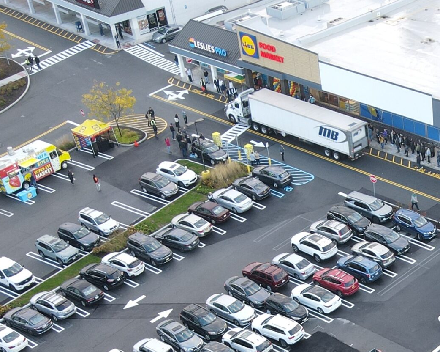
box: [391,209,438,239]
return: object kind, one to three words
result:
car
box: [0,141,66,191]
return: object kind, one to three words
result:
truck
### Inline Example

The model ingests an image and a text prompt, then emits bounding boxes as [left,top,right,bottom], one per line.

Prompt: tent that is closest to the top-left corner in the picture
[73,122,120,158]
